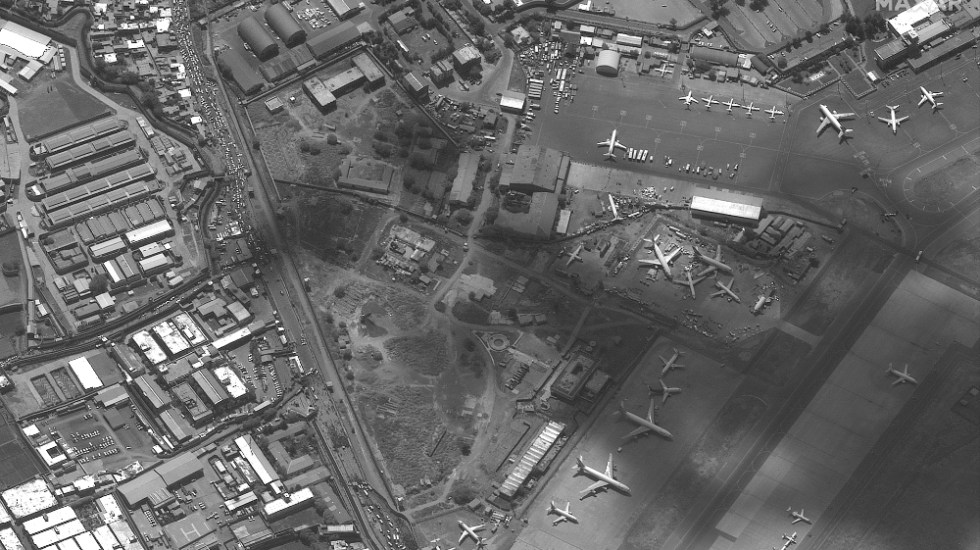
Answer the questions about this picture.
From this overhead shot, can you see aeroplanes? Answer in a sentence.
Yes, there is an aeroplane in the image.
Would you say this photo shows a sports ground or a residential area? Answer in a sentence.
The picture captures a residential area.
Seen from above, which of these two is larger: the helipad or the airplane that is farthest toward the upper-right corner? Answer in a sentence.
Of the two, the helipad is bigger, while the airplane is smaller.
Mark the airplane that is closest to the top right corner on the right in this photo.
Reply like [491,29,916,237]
[919,87,943,111]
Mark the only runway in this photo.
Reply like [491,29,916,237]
[699,271,980,550]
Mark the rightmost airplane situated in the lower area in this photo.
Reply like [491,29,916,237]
[887,364,918,385]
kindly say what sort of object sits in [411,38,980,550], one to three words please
airport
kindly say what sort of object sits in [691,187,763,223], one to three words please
hangar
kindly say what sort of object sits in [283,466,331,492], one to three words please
house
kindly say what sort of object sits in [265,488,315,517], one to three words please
building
